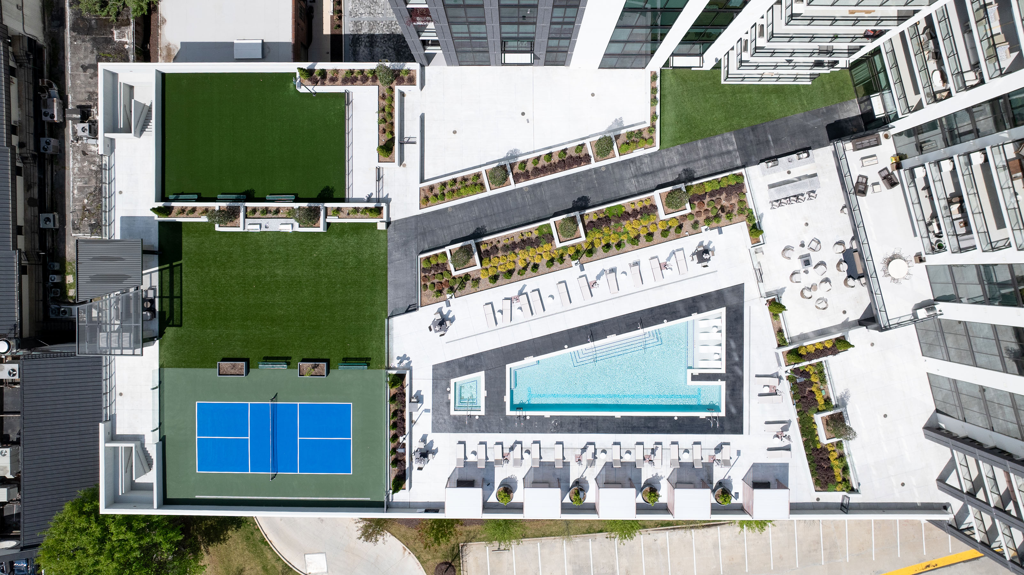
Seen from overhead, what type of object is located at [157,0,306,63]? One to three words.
building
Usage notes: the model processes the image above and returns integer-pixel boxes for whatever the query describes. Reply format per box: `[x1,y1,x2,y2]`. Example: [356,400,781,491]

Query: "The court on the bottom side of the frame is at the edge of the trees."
[159,368,387,506]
